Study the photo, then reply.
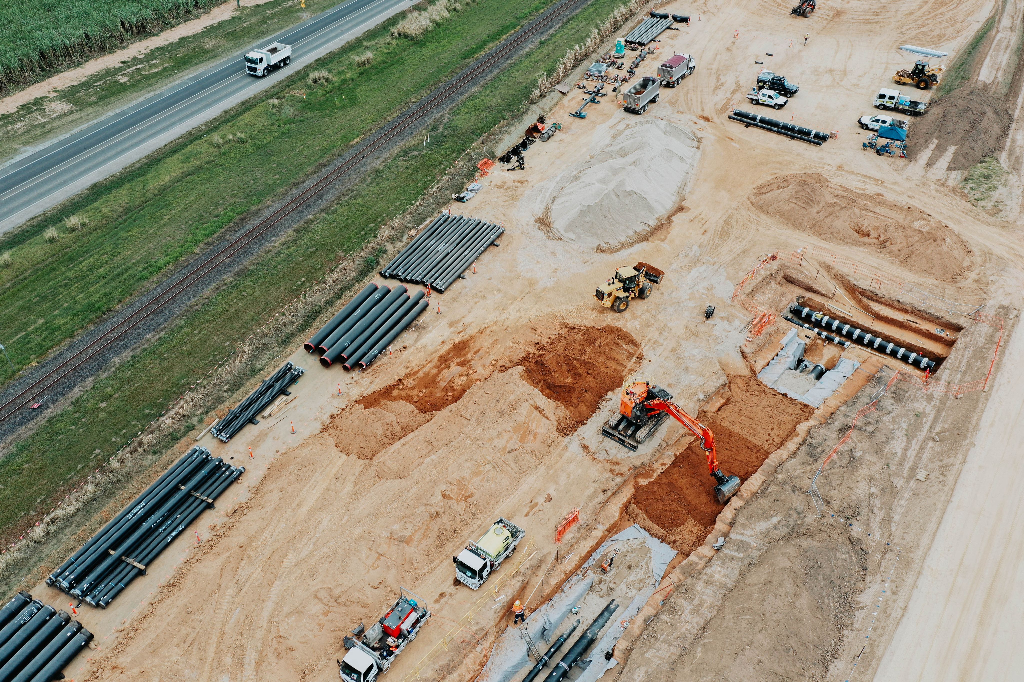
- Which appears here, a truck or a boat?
truck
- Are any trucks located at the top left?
Yes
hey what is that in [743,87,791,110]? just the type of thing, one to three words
truck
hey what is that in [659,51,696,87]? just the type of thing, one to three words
truck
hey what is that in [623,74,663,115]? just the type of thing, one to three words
trailer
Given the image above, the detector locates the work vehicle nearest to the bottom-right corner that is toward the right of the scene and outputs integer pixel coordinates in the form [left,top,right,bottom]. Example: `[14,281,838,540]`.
[594,363,736,504]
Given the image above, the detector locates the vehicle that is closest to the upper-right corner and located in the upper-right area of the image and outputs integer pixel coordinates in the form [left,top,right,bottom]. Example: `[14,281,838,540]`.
[893,61,942,90]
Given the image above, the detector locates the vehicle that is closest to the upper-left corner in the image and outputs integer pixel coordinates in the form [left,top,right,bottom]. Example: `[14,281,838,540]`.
[239,42,291,75]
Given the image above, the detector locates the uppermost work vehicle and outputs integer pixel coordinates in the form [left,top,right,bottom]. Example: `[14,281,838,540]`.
[792,0,816,21]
